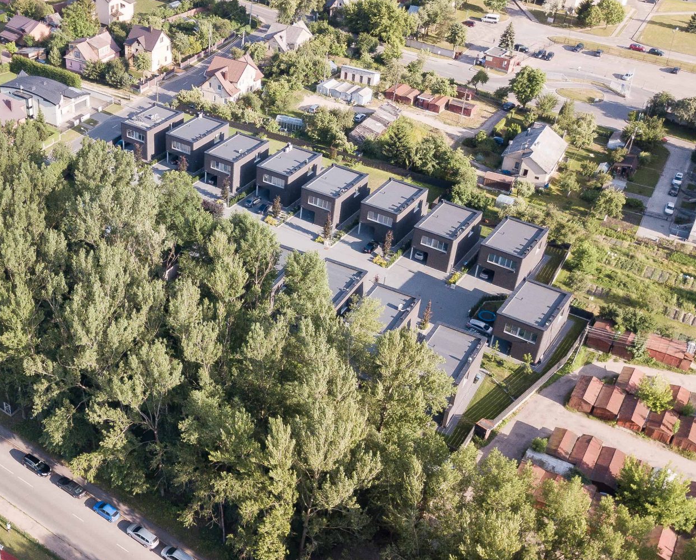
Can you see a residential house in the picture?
Yes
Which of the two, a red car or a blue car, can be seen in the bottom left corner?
blue car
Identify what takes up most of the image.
trees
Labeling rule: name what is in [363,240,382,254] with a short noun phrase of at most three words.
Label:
vehicle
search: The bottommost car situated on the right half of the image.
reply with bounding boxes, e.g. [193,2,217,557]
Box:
[465,317,492,337]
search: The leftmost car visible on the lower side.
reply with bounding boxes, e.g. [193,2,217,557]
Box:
[21,452,53,478]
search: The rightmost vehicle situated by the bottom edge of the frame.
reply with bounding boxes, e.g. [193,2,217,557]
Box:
[161,543,198,560]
